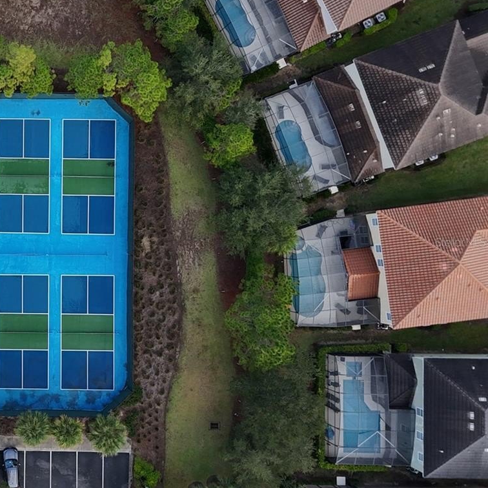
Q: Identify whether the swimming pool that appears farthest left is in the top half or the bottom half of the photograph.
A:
top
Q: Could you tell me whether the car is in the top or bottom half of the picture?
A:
bottom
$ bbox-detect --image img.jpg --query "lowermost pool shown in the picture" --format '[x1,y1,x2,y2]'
[342,378,382,455]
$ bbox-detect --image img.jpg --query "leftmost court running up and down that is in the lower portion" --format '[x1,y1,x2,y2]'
[0,274,49,389]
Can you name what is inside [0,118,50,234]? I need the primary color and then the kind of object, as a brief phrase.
blue sports court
